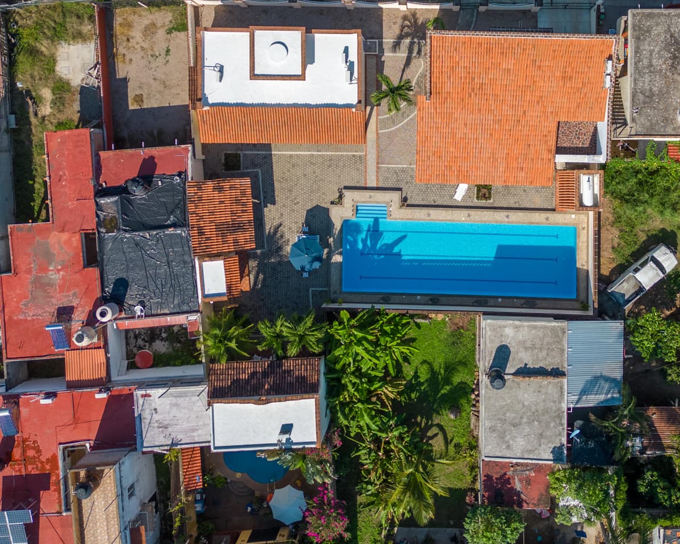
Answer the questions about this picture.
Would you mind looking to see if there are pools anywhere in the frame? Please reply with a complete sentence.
Yes, the frame does contain a pool.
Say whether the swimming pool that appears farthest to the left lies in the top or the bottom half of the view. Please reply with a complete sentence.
The bottom half of the photo is where the swimming pool that appears farthest to the left is.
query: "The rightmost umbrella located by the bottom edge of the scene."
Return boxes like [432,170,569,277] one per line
[269,481,308,520]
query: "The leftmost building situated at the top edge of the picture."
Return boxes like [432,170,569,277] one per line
[196,26,378,146]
